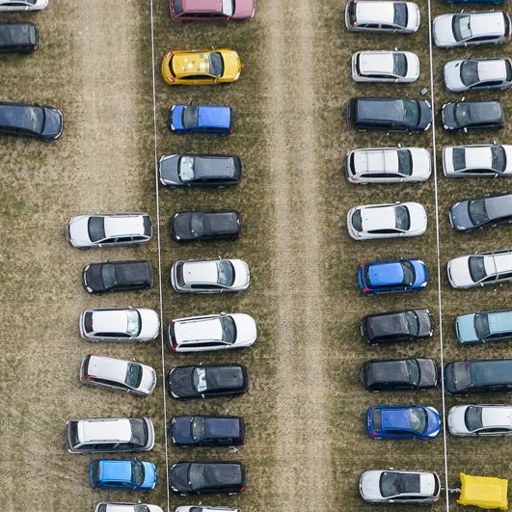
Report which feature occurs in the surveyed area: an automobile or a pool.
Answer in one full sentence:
The image shows an automobile.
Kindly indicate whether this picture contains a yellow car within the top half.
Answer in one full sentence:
Yes, you'll find a yellow car within the top half.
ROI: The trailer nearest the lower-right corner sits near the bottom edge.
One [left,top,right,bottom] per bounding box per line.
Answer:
[443,475,509,512]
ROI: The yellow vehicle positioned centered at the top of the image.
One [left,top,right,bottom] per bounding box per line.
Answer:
[162,48,241,85]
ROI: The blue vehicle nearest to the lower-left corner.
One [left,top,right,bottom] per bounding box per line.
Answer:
[88,455,157,491]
